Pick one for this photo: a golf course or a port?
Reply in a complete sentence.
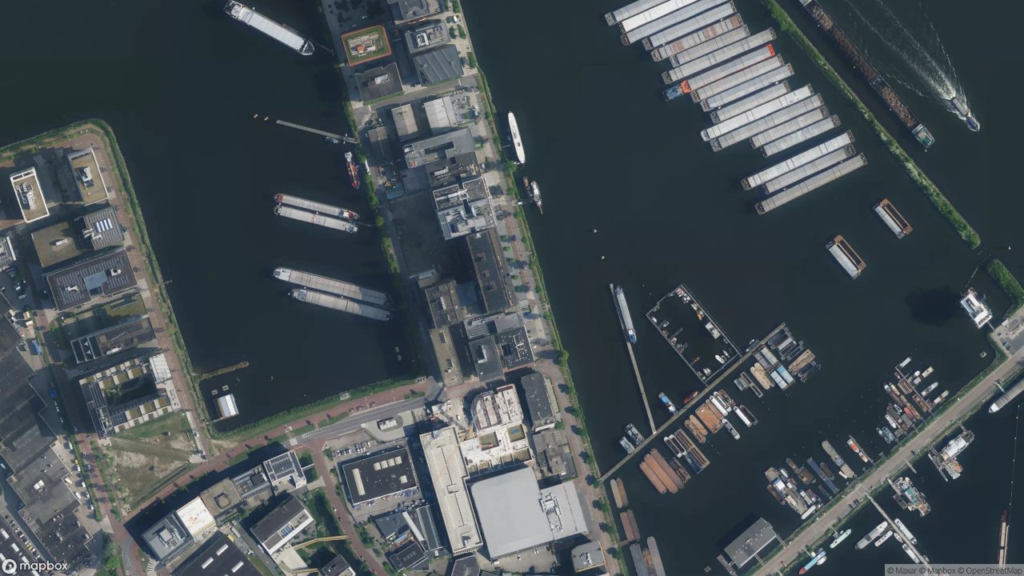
This looks like a port.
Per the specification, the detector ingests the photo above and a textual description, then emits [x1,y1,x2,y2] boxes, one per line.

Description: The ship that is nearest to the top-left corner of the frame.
[224,0,314,54]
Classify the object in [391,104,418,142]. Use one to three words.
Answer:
shed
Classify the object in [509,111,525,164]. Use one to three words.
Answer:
ship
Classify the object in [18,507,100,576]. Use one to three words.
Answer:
building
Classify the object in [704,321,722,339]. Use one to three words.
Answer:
boat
